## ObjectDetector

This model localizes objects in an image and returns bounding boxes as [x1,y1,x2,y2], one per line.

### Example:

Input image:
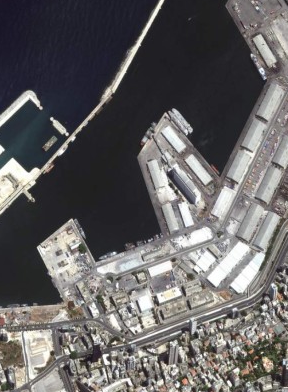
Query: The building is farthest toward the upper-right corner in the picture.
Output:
[252,33,277,68]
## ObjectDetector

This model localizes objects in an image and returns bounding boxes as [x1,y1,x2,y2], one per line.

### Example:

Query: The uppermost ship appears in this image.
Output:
[251,53,266,80]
